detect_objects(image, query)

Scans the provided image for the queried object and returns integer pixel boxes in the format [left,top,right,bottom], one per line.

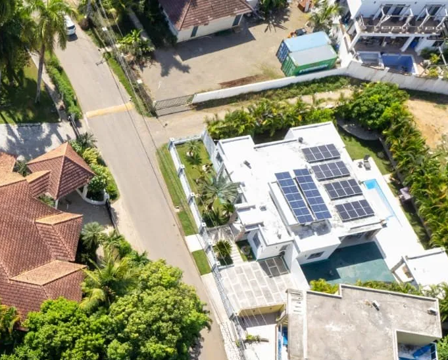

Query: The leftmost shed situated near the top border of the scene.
[161,0,255,46]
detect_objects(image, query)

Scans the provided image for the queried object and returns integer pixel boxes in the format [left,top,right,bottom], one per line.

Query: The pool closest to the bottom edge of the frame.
[298,239,399,290]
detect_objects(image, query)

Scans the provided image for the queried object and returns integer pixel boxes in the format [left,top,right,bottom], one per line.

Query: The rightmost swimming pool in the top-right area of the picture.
[380,52,422,73]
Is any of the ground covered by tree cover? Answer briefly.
Yes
